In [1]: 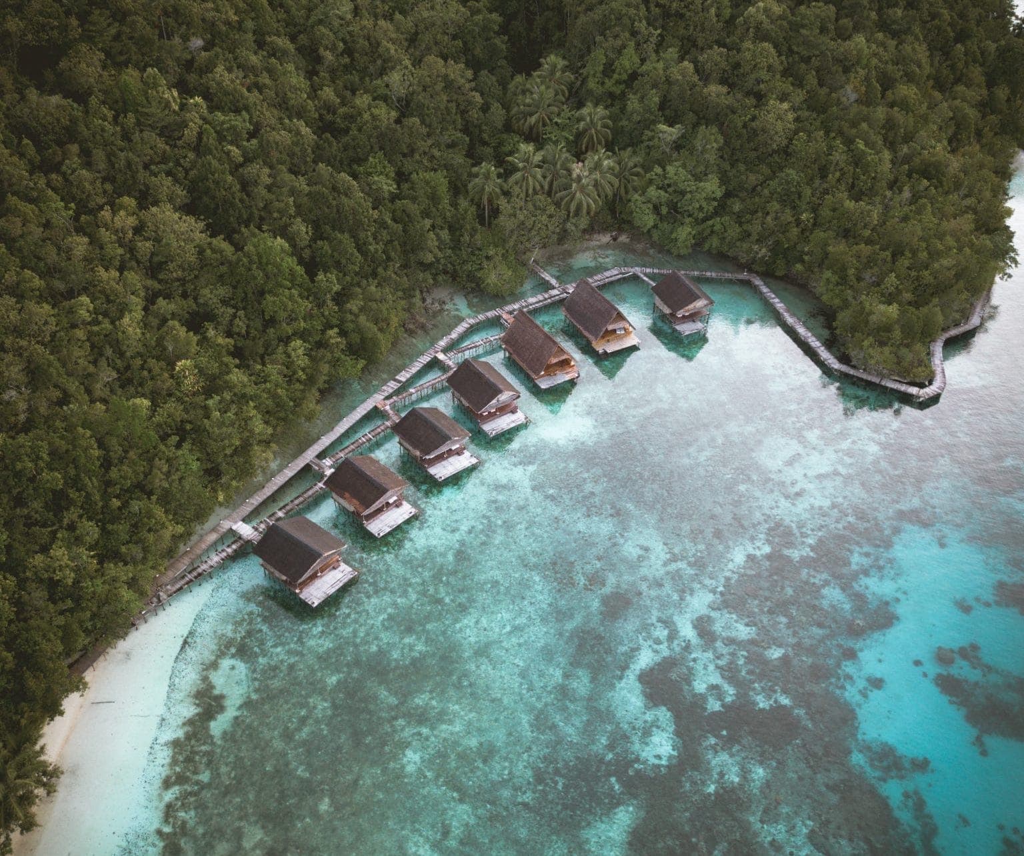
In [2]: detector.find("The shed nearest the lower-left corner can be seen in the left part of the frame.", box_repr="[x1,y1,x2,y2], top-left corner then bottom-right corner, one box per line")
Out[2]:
[254,515,362,611]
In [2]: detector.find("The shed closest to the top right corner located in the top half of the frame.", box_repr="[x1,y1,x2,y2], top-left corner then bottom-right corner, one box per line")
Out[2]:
[651,275,713,345]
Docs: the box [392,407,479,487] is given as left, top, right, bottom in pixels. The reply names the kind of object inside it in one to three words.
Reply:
shed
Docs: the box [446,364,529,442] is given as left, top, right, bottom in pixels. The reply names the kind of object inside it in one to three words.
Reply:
shed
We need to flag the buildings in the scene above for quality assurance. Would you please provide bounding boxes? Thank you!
[446,364,529,442]
[323,457,421,543]
[254,515,362,611]
[392,407,479,487]
[564,280,641,359]
[651,275,713,345]
[502,311,584,396]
